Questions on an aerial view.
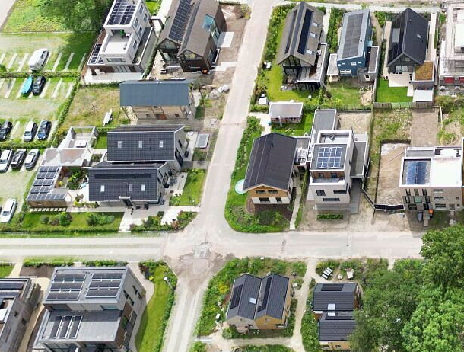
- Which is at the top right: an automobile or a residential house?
residential house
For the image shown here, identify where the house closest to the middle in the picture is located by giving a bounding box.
[240,130,309,202]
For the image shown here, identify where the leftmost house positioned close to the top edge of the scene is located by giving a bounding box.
[92,0,158,75]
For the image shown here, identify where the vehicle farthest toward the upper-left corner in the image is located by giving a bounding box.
[30,46,49,71]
